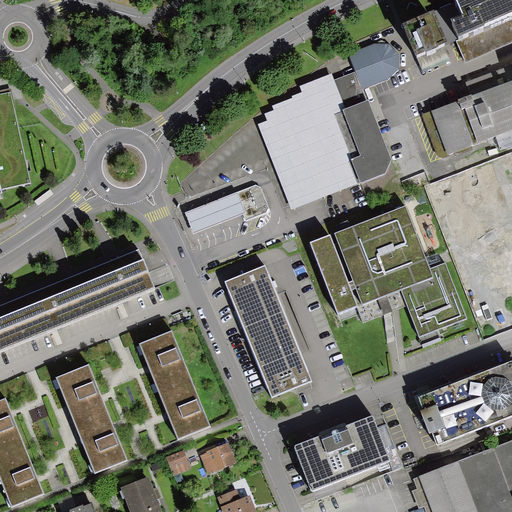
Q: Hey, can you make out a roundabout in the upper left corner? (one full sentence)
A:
Yes, you'll find a roundabout in the upper left corner.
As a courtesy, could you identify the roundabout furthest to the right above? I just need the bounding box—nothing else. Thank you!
[85,128,163,204]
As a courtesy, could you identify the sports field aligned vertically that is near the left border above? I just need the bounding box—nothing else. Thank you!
[0,92,30,190]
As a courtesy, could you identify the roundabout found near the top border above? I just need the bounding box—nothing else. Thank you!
[0,8,48,66]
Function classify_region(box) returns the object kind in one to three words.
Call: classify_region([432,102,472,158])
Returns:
building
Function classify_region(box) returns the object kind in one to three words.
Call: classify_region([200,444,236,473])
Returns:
house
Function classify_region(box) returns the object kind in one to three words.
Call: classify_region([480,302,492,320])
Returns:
vehicle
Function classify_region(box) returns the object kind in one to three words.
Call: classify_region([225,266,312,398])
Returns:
building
